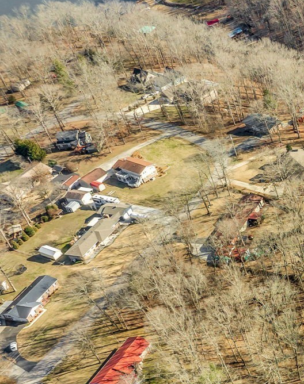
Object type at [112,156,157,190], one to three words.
house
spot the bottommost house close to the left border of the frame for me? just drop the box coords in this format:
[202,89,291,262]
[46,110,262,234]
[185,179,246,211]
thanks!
[0,276,59,325]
